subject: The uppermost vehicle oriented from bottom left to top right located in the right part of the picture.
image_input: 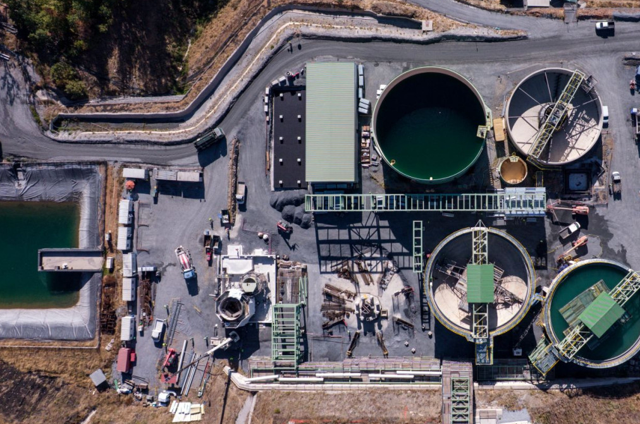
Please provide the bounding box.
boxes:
[559,222,580,238]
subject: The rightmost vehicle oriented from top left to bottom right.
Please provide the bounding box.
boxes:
[276,219,294,237]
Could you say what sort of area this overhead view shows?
industrial area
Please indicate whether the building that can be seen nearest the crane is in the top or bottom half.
bottom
